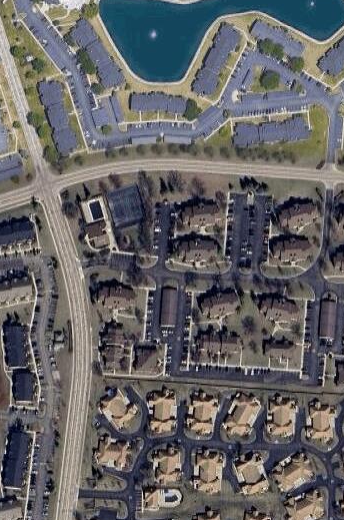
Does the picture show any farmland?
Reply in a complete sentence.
No, farmland can't be seen anywhere here.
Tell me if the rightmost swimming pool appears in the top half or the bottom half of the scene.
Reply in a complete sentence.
The rightmost swimming pool sits in the bottom half of the picture.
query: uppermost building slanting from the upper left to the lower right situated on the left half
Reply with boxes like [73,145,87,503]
[66,20,125,91]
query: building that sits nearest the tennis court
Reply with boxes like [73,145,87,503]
[84,228,108,249]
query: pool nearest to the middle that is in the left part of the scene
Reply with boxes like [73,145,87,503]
[83,195,108,224]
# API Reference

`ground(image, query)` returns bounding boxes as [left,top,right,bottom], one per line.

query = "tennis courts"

[108,187,145,227]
